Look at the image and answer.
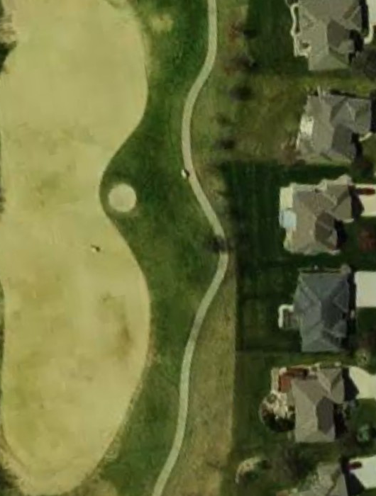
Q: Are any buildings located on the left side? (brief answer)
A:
No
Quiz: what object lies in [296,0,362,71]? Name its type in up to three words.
house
